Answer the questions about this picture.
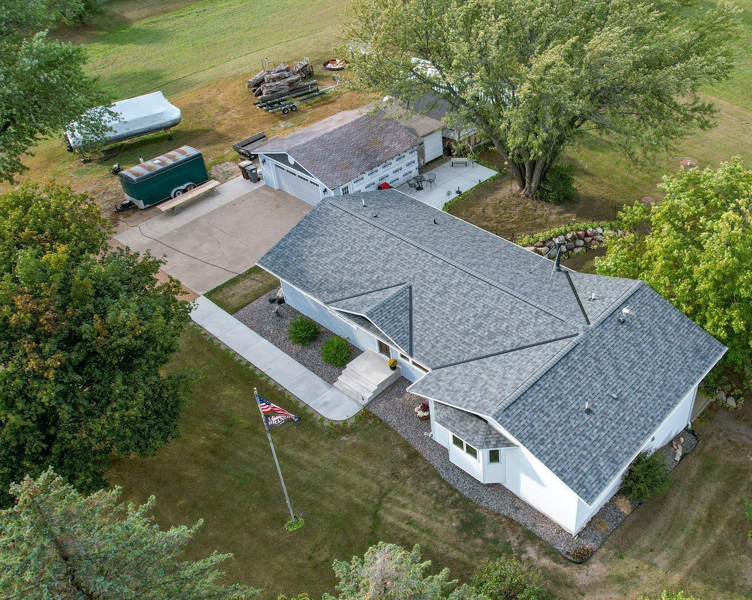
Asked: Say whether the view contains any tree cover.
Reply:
Yes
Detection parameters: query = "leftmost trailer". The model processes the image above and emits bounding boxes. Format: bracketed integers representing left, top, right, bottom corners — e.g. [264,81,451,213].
[111,145,210,214]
